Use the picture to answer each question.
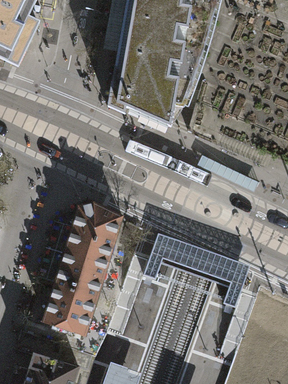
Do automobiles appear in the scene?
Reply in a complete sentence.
Yes, looking at the shot, I can spot an automobile.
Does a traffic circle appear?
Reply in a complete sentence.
No, the frame has no traffic circle in it.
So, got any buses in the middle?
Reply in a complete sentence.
Yes, you'll find a bus in the middle.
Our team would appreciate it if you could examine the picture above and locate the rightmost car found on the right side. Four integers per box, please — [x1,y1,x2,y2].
[268,212,288,228]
